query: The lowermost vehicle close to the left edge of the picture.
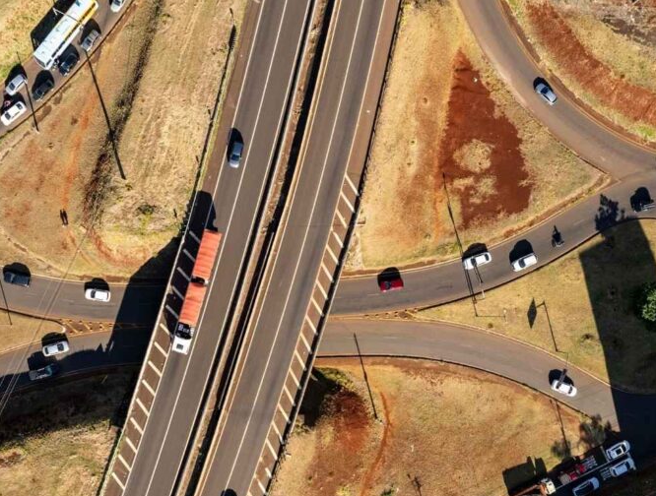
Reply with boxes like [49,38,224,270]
[28,363,56,380]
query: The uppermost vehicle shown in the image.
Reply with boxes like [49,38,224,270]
[108,0,129,16]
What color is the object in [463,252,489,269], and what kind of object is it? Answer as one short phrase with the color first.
white car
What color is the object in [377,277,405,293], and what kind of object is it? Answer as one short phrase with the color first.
red car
